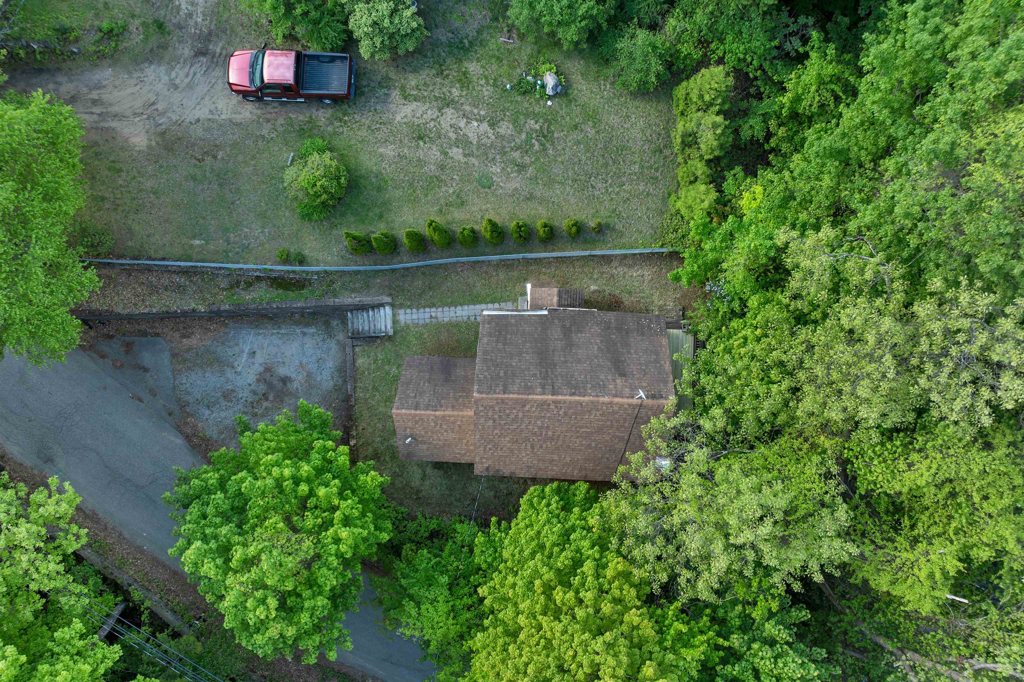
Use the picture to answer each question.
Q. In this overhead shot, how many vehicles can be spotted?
one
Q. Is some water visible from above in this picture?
No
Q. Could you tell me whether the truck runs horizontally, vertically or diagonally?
horizontally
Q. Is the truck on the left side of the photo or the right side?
left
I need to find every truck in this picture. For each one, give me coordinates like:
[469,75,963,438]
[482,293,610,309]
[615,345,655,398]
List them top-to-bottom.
[225,38,356,101]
